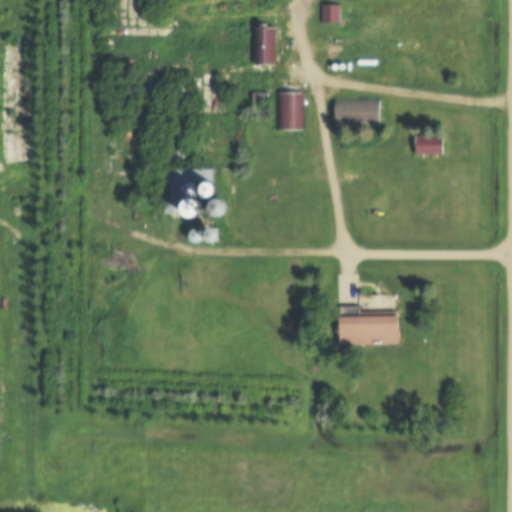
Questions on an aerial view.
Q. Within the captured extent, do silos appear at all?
Yes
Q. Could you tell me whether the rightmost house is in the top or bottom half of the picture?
top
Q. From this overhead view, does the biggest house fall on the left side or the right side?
right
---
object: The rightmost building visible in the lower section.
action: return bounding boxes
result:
[338,306,400,345]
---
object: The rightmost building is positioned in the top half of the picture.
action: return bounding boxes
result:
[415,135,444,158]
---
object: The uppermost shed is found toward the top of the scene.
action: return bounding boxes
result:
[320,4,342,22]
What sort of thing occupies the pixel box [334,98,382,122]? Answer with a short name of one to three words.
shed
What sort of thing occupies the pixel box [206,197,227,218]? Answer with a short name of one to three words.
silo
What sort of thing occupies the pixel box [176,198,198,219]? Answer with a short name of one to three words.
silo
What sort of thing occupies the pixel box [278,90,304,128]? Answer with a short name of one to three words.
barn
